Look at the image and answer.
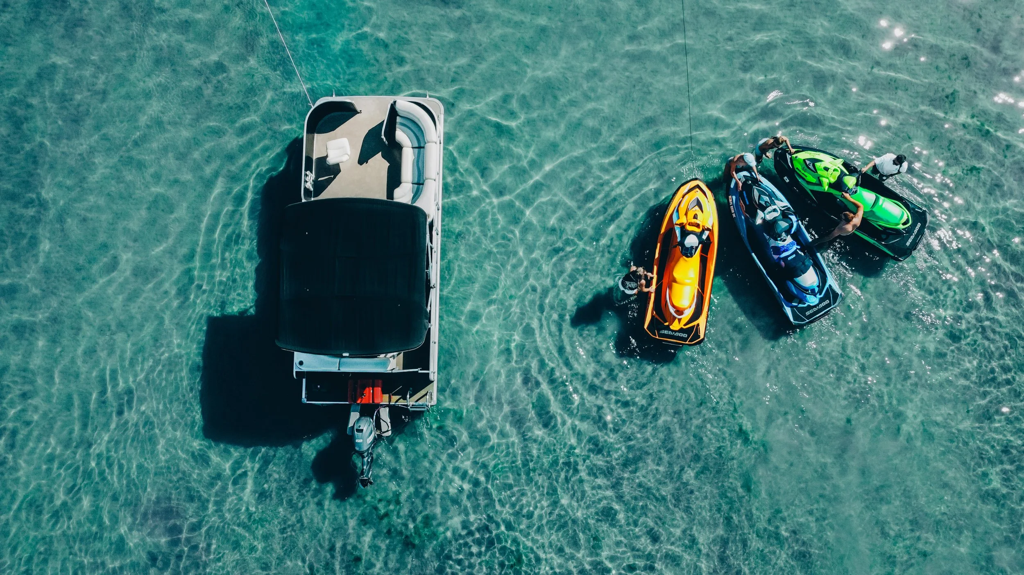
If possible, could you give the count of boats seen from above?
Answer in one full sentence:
The count of boats comes to 4.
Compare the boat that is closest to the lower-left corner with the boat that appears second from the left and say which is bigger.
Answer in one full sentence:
It is the boat that is closest to the lower-left corner that is larger, not the boat that appears second from the left.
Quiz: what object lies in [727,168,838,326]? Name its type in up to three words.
boat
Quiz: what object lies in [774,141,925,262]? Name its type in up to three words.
boat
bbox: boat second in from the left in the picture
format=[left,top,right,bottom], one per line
[643,178,718,347]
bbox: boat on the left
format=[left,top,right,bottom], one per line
[276,89,445,487]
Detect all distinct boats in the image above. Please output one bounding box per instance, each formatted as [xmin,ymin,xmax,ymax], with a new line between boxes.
[727,168,838,326]
[774,141,925,262]
[643,178,718,347]
[276,89,445,487]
